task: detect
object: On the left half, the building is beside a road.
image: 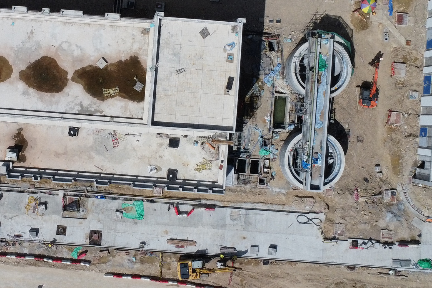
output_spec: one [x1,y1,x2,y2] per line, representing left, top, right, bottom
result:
[0,3,247,195]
